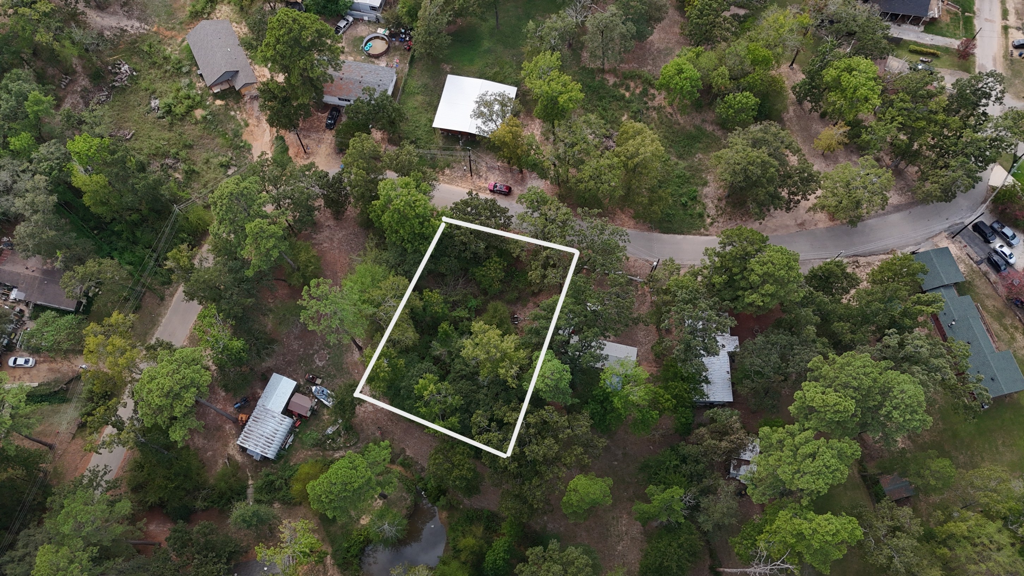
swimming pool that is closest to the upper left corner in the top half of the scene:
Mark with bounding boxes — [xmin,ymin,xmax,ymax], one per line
[362,34,391,60]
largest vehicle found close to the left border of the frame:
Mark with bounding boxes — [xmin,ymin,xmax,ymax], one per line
[7,355,39,368]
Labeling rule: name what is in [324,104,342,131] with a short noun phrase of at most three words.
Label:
vehicle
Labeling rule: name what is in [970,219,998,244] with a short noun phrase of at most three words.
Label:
car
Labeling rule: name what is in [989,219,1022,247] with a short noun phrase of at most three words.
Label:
truck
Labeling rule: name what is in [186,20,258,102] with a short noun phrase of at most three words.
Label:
house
